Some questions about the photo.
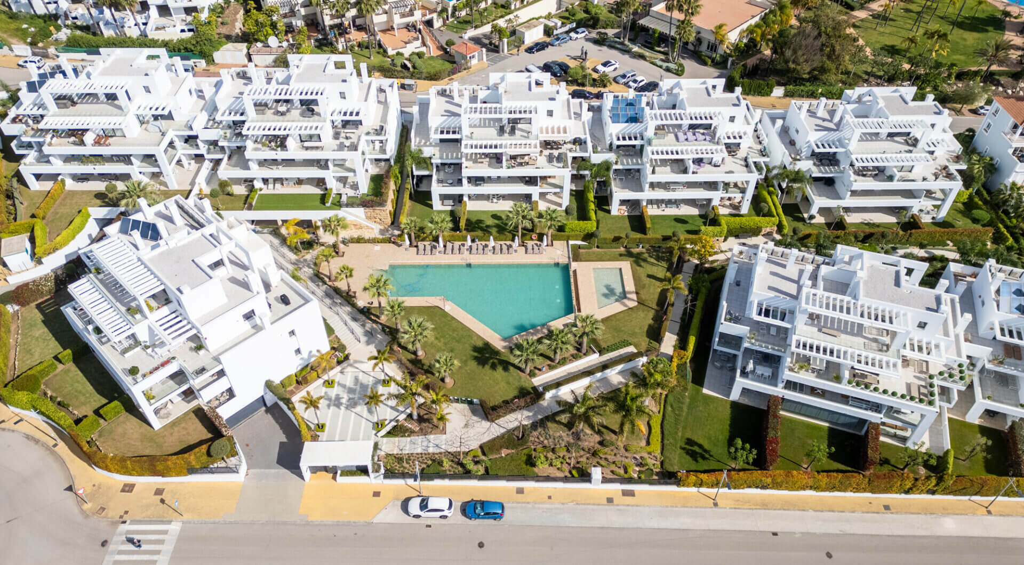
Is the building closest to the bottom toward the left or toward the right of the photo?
left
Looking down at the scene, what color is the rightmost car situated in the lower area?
blue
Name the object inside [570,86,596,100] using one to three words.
car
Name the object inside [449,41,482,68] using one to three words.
building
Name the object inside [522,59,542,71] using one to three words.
vehicle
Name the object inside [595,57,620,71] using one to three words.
car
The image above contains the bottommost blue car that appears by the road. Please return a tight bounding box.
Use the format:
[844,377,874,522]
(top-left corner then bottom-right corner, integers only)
[463,499,505,523]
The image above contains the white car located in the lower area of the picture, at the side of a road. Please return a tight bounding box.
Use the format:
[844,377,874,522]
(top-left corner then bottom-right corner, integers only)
[407,495,454,521]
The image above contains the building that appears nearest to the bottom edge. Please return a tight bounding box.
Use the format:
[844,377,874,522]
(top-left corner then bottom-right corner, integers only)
[299,440,377,482]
